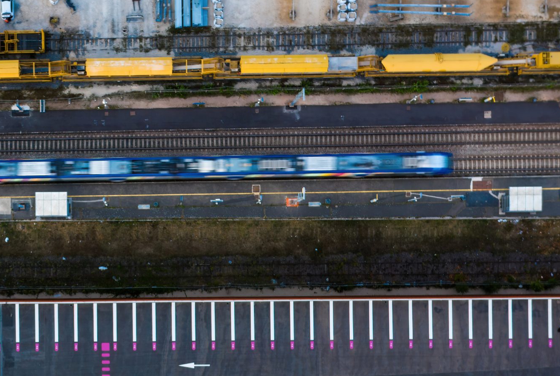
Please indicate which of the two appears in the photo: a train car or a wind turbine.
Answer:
train car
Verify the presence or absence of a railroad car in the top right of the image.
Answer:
Yes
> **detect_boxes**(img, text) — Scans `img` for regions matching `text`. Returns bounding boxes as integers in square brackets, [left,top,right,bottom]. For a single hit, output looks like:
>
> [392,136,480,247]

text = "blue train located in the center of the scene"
[0,150,453,181]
